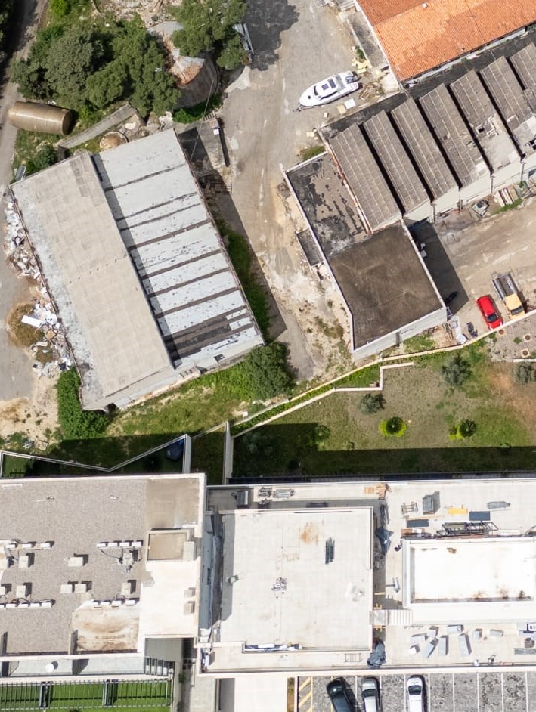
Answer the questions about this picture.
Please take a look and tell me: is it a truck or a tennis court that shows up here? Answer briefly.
truck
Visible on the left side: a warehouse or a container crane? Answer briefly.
warehouse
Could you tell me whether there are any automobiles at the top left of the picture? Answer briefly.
No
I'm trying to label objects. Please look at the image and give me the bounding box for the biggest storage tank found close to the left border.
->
[11,103,73,135]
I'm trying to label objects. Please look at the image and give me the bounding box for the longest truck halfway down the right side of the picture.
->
[489,264,523,316]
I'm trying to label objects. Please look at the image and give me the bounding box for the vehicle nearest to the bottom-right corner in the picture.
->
[405,675,425,712]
